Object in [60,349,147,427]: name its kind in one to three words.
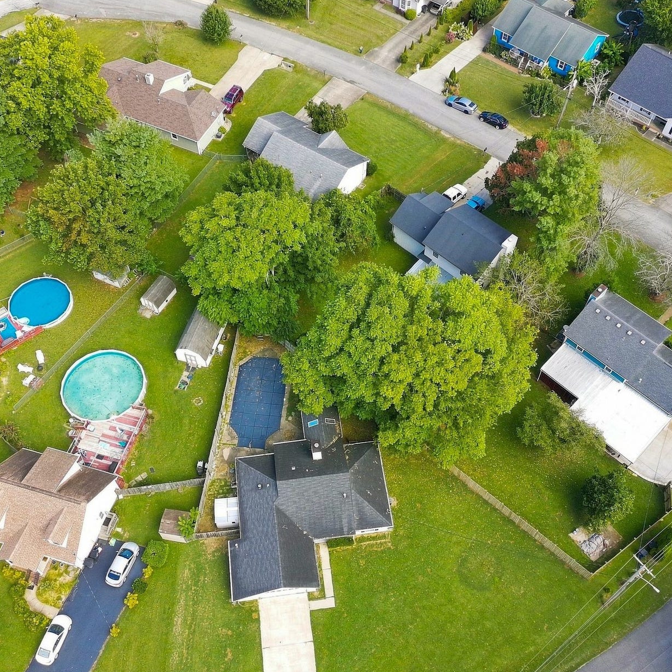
swimming pool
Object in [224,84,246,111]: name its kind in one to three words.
car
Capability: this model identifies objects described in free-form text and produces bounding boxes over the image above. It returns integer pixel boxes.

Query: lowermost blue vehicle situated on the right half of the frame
[464,190,491,211]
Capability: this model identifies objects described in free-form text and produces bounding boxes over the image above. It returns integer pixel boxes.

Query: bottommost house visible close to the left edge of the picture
[0,445,122,591]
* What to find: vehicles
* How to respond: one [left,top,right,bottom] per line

[443,180,472,200]
[464,190,491,211]
[478,112,511,131]
[102,541,141,589]
[224,84,246,111]
[446,96,479,114]
[31,614,73,667]
[430,0,449,13]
